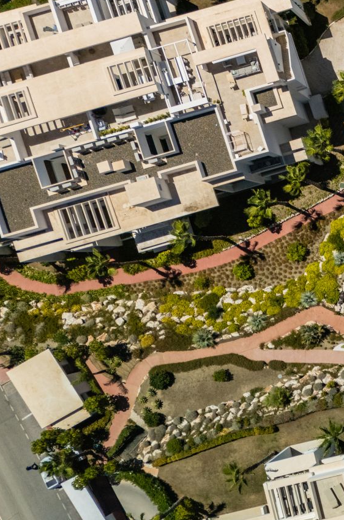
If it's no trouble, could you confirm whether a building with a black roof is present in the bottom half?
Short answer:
No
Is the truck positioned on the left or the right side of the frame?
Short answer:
left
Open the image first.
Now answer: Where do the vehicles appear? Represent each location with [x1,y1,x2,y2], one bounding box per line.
[44,466,105,520]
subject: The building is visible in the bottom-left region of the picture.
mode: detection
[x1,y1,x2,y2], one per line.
[7,347,97,434]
